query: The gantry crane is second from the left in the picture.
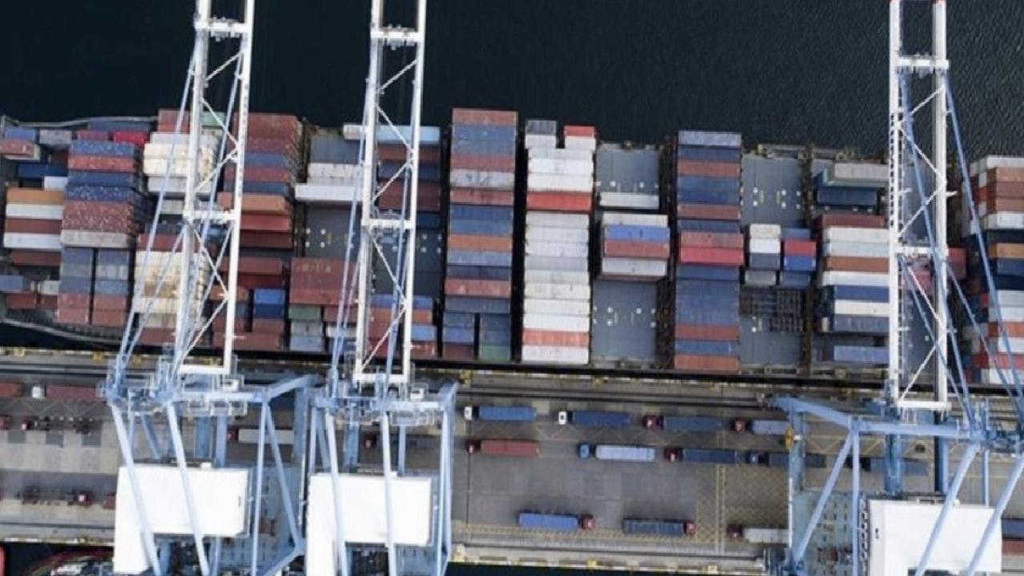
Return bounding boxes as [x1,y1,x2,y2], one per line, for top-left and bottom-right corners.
[293,0,476,576]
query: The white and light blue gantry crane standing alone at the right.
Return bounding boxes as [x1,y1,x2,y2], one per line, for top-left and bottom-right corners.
[751,0,1024,576]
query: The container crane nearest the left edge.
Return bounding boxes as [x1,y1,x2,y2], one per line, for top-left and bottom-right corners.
[103,0,329,576]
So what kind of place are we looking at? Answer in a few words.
port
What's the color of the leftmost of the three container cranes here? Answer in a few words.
white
